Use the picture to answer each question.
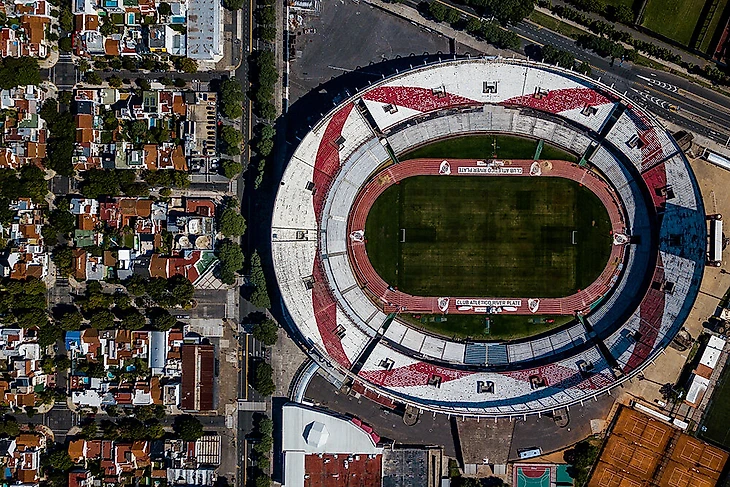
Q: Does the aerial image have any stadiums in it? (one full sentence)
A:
Yes, there's a stadium here.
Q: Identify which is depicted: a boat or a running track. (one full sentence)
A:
This aerial view contains a running track.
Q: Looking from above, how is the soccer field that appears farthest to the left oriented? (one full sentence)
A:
In this picture, the soccer field that appears farthest to the left is oriented horizontally.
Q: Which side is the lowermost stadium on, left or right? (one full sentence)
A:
You can find the lowermost stadium on the right side of the picture.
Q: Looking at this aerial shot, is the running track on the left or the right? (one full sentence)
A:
The running track is on the right side of the image.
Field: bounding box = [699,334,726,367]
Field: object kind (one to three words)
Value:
building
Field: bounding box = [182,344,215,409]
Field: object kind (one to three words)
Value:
shed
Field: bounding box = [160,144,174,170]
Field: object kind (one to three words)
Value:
house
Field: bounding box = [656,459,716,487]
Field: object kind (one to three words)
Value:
tennis court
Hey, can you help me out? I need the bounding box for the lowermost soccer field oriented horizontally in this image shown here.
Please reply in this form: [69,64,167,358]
[366,177,612,297]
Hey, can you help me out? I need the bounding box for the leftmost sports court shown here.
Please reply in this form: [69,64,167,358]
[513,464,556,487]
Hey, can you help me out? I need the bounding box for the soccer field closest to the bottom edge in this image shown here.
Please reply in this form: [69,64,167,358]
[700,352,730,444]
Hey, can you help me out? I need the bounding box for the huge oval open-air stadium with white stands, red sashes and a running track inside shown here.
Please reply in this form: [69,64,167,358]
[271,52,706,422]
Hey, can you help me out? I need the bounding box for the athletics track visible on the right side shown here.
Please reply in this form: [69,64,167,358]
[350,160,627,314]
